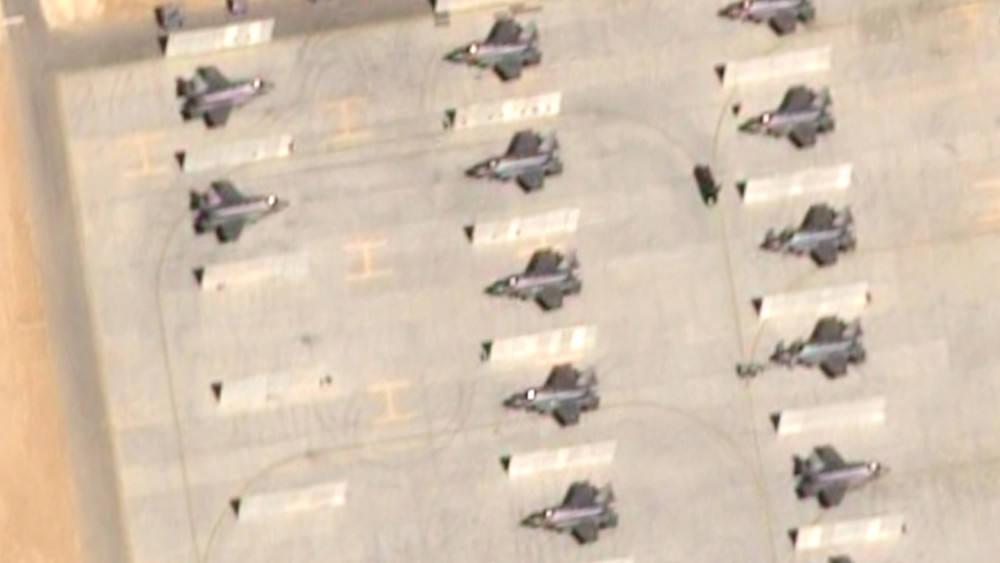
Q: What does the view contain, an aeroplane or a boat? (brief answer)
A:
aeroplane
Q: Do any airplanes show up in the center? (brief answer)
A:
Yes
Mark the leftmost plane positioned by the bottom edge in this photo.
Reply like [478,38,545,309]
[528,479,620,540]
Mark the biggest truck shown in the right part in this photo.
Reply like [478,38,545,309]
[694,164,723,211]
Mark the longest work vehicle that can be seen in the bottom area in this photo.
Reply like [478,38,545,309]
[736,363,775,380]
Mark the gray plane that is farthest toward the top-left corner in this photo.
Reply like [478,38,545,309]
[184,62,274,122]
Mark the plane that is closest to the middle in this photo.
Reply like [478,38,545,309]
[492,248,583,307]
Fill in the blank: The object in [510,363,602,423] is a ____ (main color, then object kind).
gray airplane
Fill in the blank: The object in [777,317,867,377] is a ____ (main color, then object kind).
gray airplane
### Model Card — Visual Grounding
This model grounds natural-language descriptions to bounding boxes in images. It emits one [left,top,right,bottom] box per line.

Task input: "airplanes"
[768,203,856,261]
[746,86,834,144]
[528,479,620,540]
[777,317,867,377]
[452,17,542,75]
[803,445,890,504]
[184,62,274,122]
[510,363,602,423]
[473,131,563,189]
[197,179,288,239]
[492,248,583,307]
[727,0,814,30]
